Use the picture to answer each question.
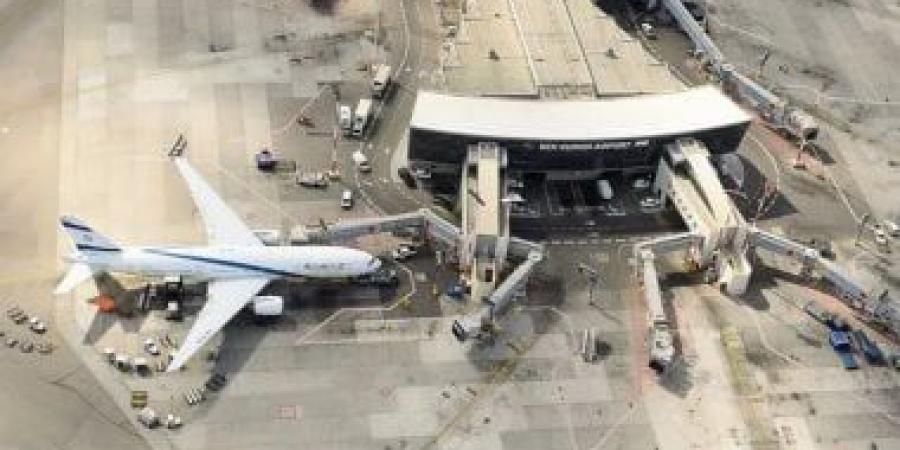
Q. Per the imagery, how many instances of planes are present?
1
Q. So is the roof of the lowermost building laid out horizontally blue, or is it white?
white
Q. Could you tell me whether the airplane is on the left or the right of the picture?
left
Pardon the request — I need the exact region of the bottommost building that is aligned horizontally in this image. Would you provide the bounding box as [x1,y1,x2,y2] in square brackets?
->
[398,85,750,194]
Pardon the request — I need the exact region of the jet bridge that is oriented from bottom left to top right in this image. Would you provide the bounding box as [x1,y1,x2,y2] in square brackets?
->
[451,237,550,350]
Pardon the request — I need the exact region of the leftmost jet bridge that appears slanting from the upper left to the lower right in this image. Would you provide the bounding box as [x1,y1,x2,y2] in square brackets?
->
[655,0,819,143]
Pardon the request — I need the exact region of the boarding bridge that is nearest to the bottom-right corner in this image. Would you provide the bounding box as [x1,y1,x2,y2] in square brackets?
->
[750,230,900,335]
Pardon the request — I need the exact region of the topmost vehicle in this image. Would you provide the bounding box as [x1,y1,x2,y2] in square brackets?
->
[685,0,709,22]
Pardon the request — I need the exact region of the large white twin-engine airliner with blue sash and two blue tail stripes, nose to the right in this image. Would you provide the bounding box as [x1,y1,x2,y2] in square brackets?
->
[51,156,384,370]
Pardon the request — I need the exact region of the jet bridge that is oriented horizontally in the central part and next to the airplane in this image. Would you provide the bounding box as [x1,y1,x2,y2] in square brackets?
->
[287,212,471,256]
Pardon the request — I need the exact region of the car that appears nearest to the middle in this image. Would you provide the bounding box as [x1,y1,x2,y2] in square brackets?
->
[427,196,450,212]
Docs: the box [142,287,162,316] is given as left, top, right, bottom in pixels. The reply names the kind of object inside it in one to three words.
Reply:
work vehicle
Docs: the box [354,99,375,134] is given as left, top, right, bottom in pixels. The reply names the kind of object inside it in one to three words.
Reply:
truck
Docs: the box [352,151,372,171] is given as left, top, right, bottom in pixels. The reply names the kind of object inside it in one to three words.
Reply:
vehicle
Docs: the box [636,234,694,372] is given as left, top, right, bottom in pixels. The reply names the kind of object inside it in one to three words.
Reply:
jet bridge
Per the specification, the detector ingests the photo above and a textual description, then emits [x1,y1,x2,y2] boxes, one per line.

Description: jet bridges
[287,212,471,256]
[750,230,900,335]
[636,234,694,372]
[655,0,819,143]
[451,237,550,350]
